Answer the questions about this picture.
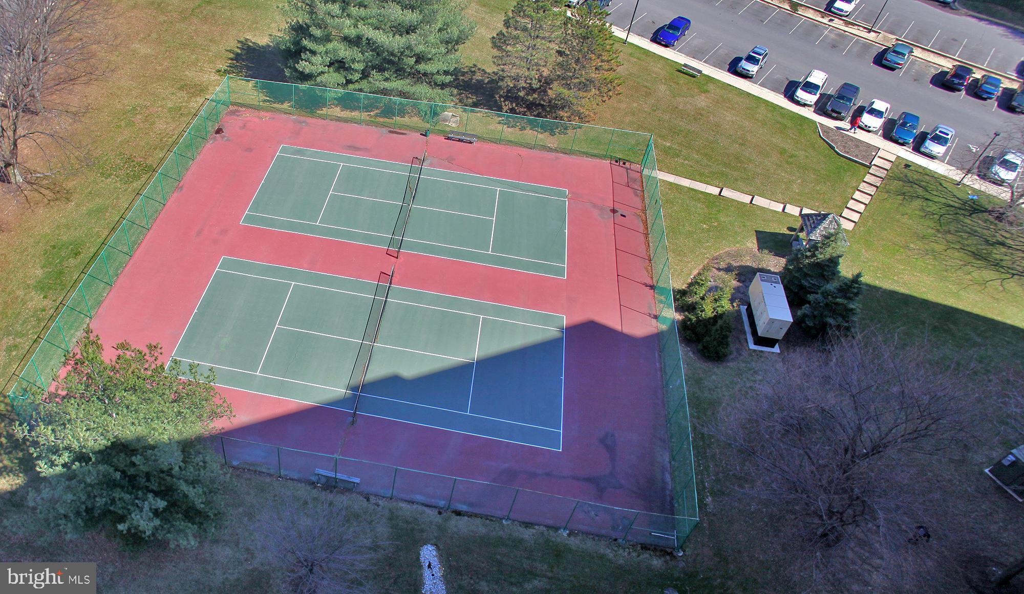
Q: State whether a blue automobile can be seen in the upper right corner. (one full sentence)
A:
Yes, a blue automobile is visible in the upper right corner.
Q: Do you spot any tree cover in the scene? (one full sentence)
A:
Yes, tree cover shows up in the scene.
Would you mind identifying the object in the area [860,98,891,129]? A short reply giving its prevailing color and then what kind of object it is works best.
white car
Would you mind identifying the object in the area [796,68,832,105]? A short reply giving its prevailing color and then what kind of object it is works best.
white car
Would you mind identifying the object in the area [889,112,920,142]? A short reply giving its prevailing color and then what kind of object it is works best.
blue car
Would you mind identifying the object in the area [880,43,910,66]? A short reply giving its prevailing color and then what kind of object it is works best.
blue car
